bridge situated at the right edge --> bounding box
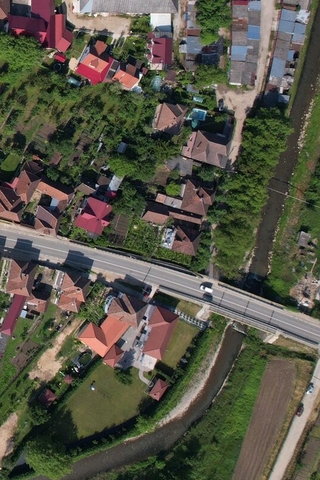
[193,277,320,354]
